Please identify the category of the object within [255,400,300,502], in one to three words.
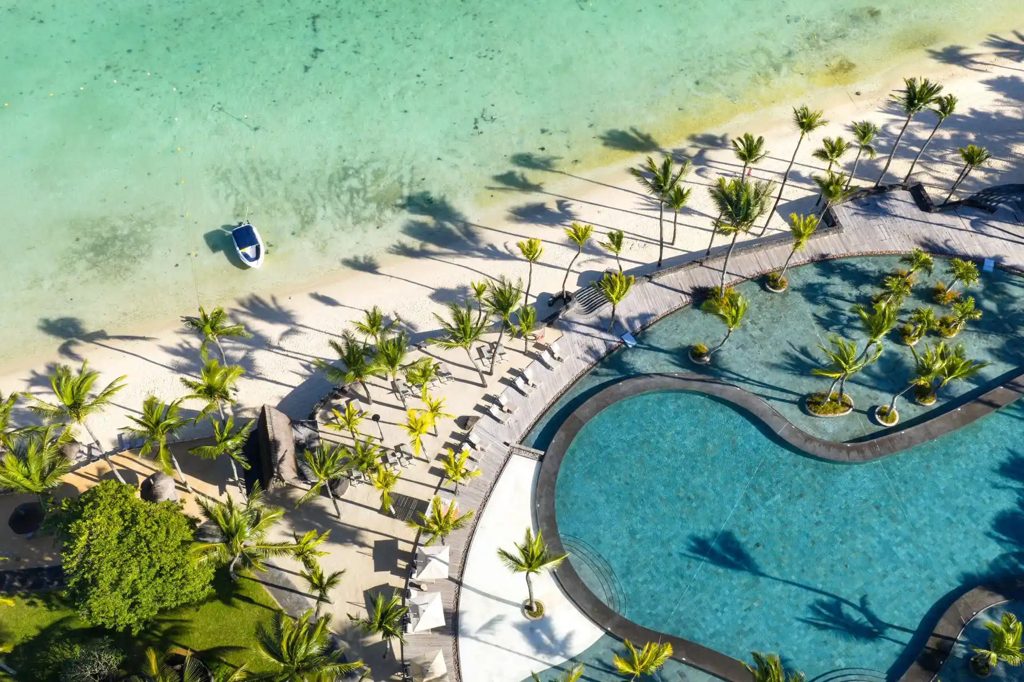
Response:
building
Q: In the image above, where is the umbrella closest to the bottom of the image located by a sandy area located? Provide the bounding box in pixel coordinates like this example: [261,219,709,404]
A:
[409,648,451,682]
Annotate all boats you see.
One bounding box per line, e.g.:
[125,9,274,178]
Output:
[232,227,265,274]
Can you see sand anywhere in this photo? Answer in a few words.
Yes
